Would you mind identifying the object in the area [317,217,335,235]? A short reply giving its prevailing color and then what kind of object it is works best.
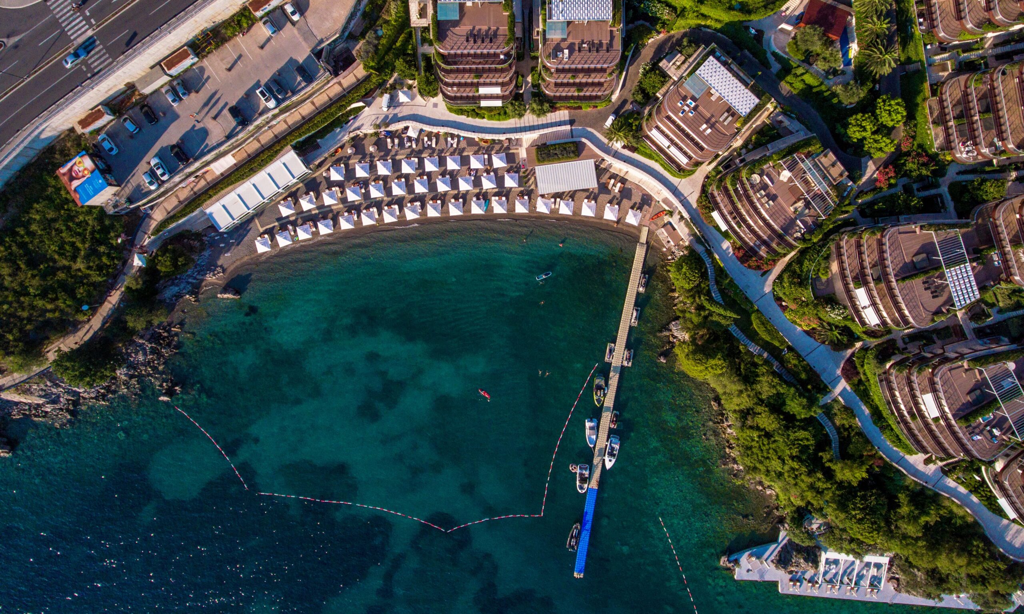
white umbrella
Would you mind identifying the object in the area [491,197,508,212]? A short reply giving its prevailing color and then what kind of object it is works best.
white umbrella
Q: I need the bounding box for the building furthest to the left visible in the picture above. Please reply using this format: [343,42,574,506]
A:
[77,107,116,132]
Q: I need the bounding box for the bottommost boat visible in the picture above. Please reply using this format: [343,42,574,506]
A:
[568,524,580,555]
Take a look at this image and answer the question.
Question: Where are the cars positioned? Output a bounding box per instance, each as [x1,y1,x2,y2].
[62,47,86,67]
[255,84,275,109]
[160,84,179,107]
[168,142,188,166]
[149,156,169,180]
[266,76,286,100]
[282,0,301,22]
[97,132,117,156]
[259,15,278,38]
[170,77,189,100]
[292,61,312,86]
[137,102,157,126]
[226,102,246,126]
[118,113,138,135]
